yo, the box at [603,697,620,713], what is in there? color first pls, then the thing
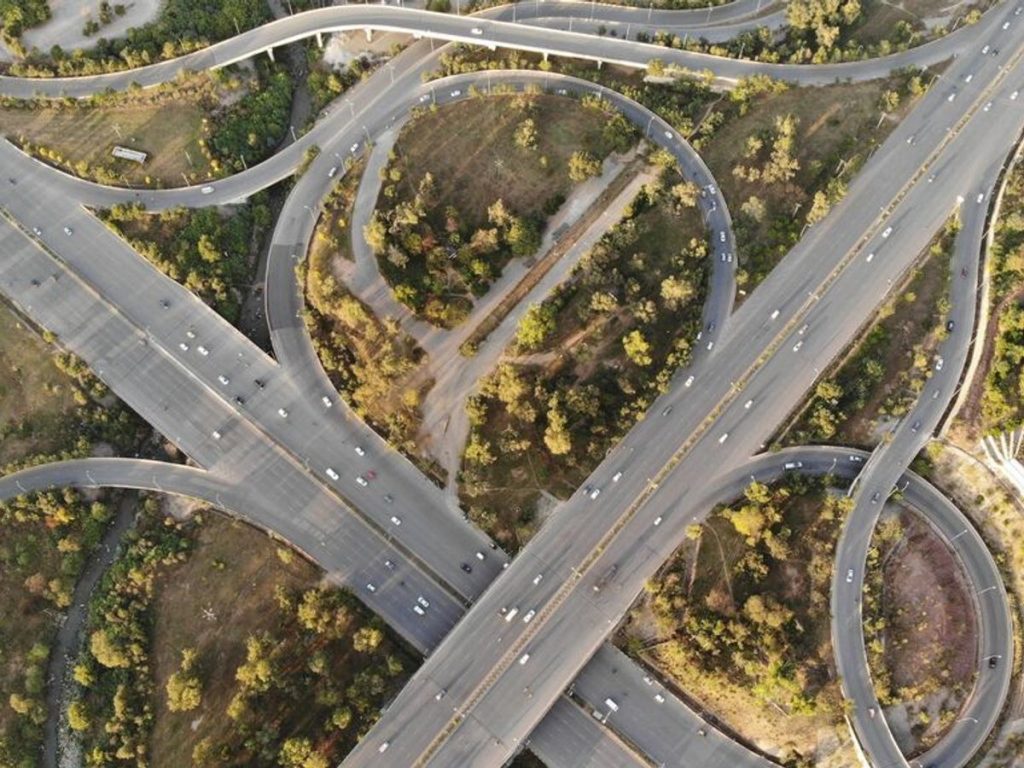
white vehicle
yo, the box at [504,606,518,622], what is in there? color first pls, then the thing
white vehicle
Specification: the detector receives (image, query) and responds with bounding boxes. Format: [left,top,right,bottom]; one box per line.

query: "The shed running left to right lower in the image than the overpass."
[112,147,149,166]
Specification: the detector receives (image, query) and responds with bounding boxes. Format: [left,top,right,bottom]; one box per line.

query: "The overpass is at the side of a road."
[0,0,1018,101]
